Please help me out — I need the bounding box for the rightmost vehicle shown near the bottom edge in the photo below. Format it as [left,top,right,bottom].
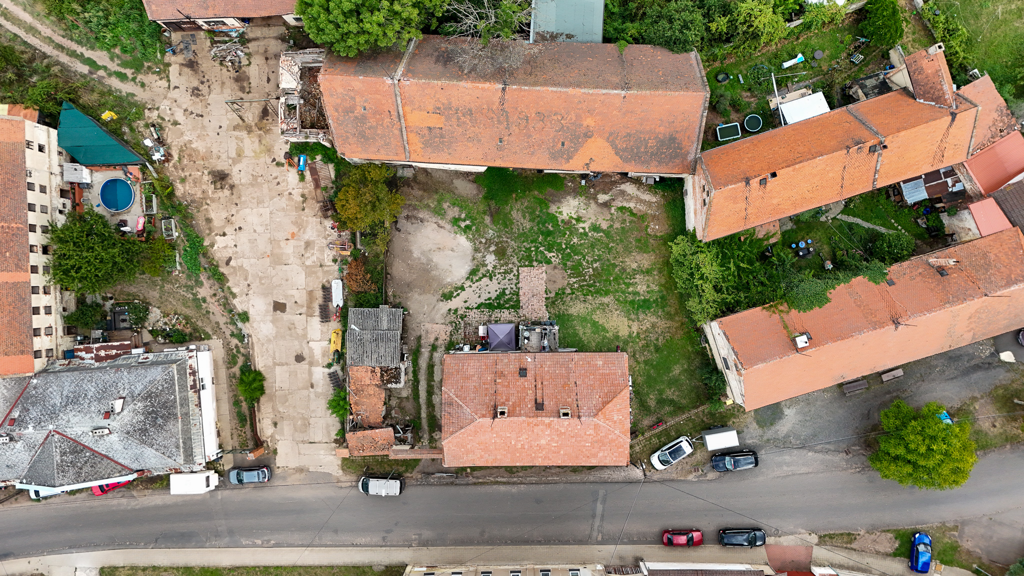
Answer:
[911,532,937,576]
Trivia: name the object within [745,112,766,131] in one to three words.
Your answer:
swimming pool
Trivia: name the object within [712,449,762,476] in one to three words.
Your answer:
car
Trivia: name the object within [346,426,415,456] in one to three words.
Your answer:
shed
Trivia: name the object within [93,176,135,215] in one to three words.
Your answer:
swimming pool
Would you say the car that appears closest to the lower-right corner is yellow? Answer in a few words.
No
